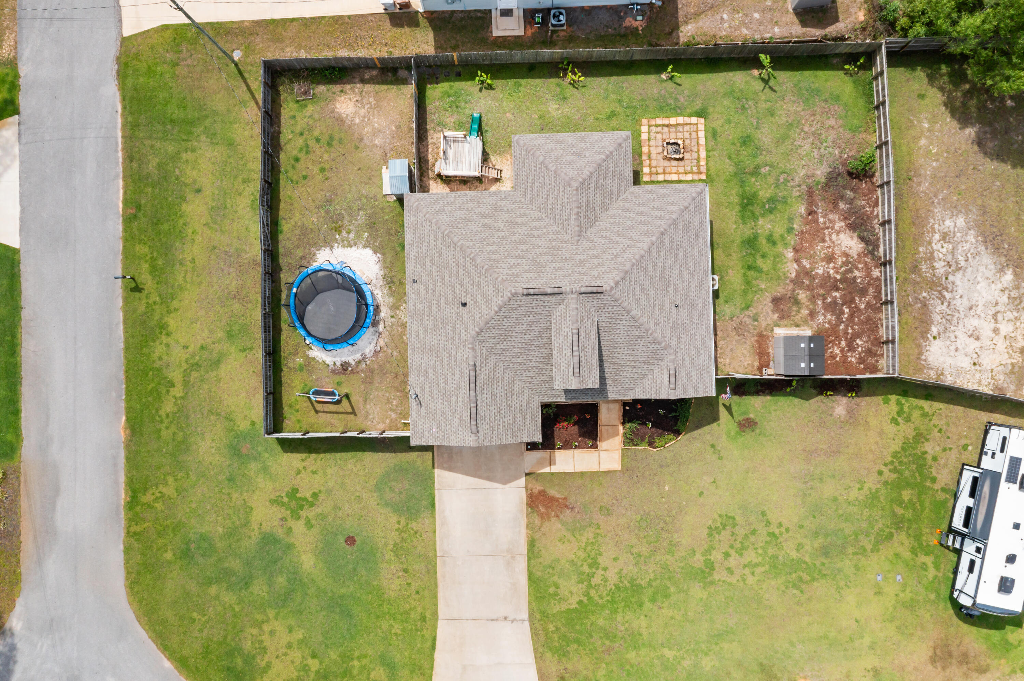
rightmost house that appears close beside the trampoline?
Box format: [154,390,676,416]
[404,131,717,449]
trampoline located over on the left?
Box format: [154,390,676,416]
[280,260,379,351]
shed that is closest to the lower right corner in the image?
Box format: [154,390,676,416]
[774,336,824,375]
